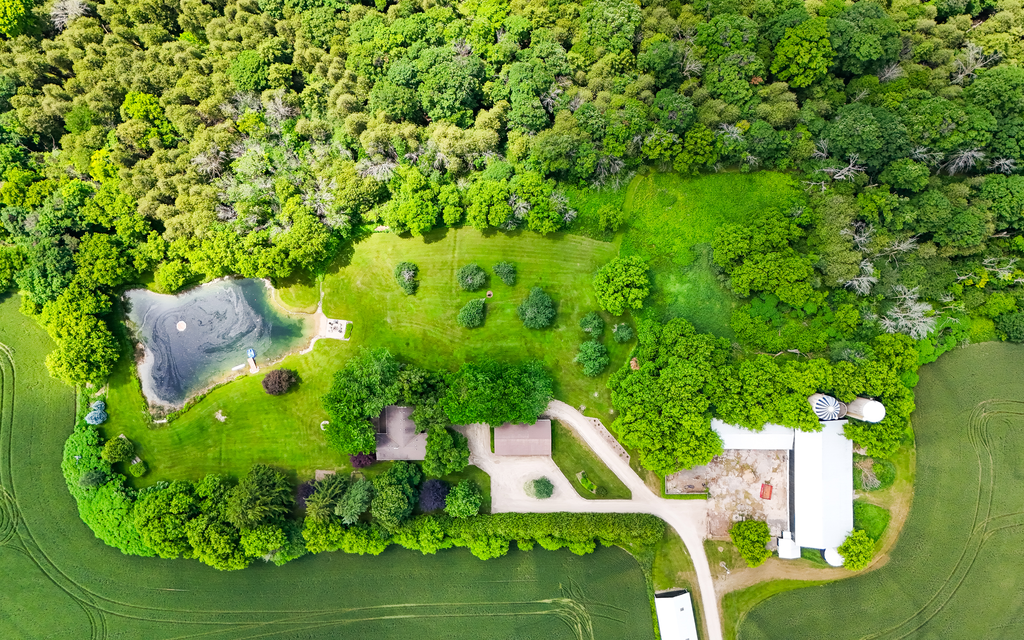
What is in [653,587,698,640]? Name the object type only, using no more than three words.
shed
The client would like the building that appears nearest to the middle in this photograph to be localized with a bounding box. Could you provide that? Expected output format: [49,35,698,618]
[494,419,551,456]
